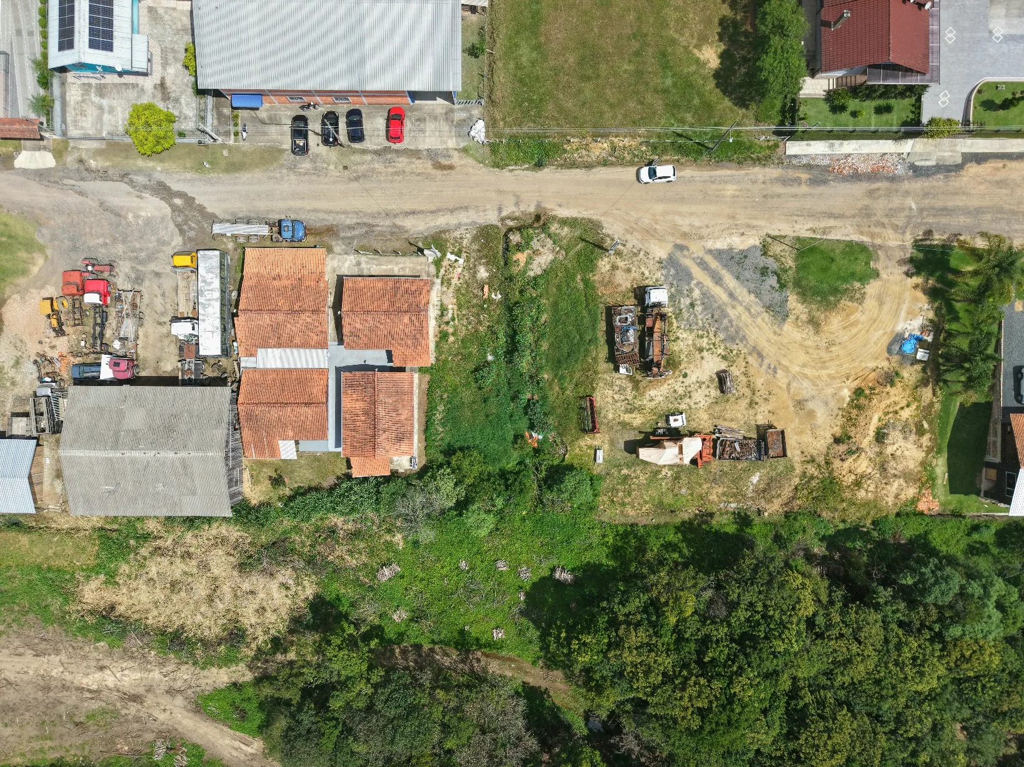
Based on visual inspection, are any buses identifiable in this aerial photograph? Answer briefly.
Yes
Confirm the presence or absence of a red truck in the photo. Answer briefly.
Yes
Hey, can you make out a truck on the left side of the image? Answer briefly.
Yes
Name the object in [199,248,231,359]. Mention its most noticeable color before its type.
white bus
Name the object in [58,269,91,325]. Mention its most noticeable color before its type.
red truck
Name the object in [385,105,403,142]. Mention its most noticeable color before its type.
red car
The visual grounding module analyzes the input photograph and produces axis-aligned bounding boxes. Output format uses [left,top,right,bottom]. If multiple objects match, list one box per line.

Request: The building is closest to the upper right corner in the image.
[812,0,942,100]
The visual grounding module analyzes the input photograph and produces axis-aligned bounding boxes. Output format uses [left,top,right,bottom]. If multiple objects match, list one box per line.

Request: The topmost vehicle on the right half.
[640,162,677,182]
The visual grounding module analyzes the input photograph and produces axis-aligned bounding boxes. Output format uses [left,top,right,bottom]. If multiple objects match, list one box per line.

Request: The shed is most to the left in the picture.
[0,439,55,513]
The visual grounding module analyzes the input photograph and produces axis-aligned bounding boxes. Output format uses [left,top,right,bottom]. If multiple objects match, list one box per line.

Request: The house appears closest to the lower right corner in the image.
[979,413,1024,516]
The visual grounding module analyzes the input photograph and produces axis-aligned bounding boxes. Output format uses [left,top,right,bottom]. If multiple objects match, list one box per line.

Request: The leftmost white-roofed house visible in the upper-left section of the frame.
[48,0,160,81]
